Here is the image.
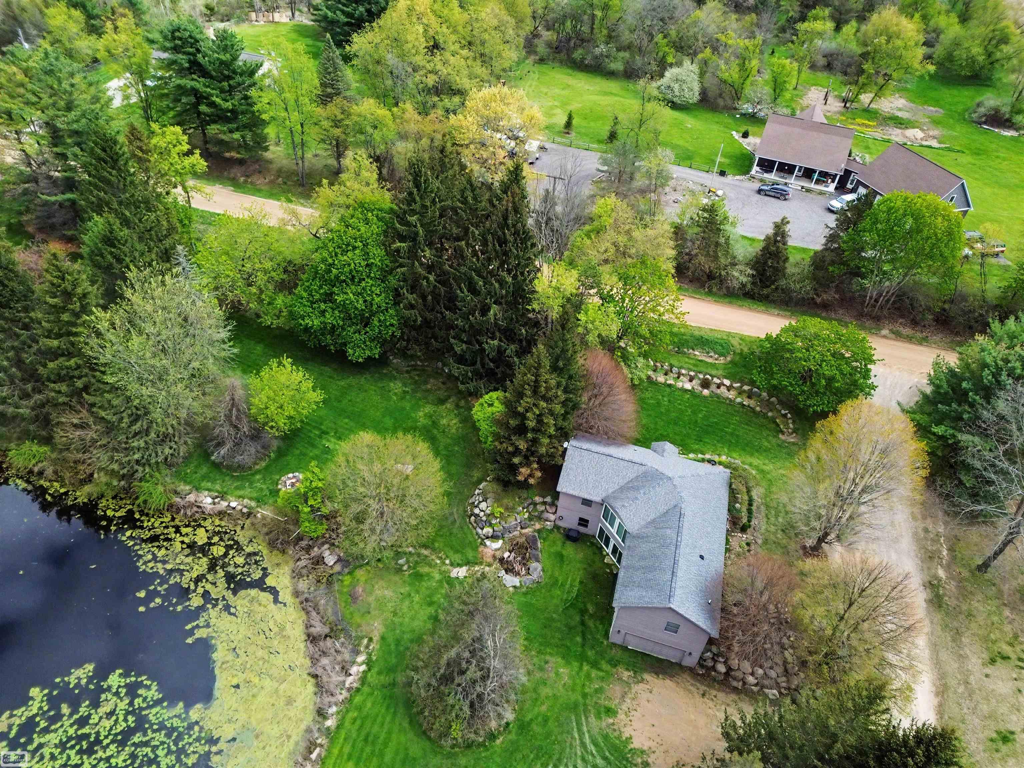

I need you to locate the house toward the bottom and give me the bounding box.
[555,434,732,667]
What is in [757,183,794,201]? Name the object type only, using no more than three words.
car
